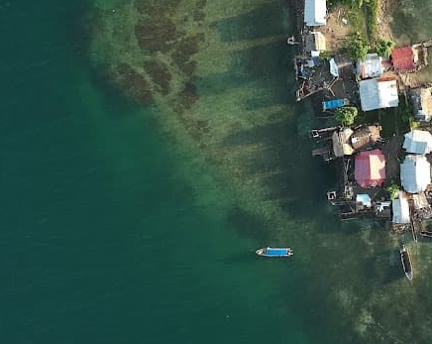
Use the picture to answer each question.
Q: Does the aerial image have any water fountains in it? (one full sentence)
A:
No, the scene contains no water fountain.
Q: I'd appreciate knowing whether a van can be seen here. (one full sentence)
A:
No, there is no van in the image.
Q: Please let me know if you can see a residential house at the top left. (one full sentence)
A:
No, there's no residential house to be seen at the top left.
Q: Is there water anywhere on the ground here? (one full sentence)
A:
Yes, water can be seen from above here.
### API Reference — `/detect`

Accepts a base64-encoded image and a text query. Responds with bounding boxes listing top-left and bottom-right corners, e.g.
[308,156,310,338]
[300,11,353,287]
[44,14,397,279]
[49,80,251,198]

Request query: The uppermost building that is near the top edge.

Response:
[304,0,326,26]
